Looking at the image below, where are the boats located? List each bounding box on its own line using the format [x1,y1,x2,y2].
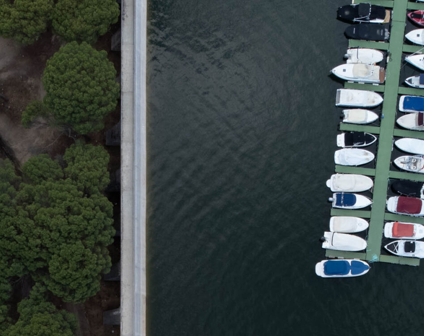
[335,133,377,149]
[315,259,371,277]
[383,222,424,240]
[390,156,424,174]
[327,175,374,192]
[345,25,392,44]
[329,217,371,232]
[399,77,424,88]
[395,113,424,132]
[320,233,368,253]
[335,90,384,110]
[331,64,386,84]
[340,109,380,124]
[329,194,374,209]
[387,180,424,197]
[401,48,424,73]
[383,241,424,256]
[396,92,424,114]
[386,197,424,217]
[338,2,392,25]
[402,30,424,46]
[404,12,424,26]
[345,48,389,64]
[335,149,376,167]
[395,138,424,153]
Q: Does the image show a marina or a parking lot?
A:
marina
